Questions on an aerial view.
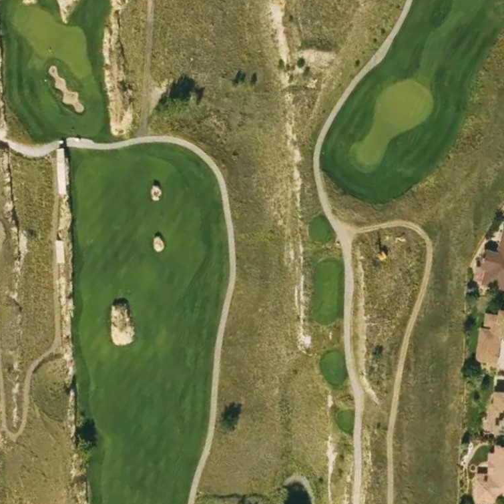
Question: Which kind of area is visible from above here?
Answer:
golf course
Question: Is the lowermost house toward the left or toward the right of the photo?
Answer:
right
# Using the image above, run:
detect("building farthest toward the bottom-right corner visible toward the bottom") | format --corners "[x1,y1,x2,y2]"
[473,448,504,504]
